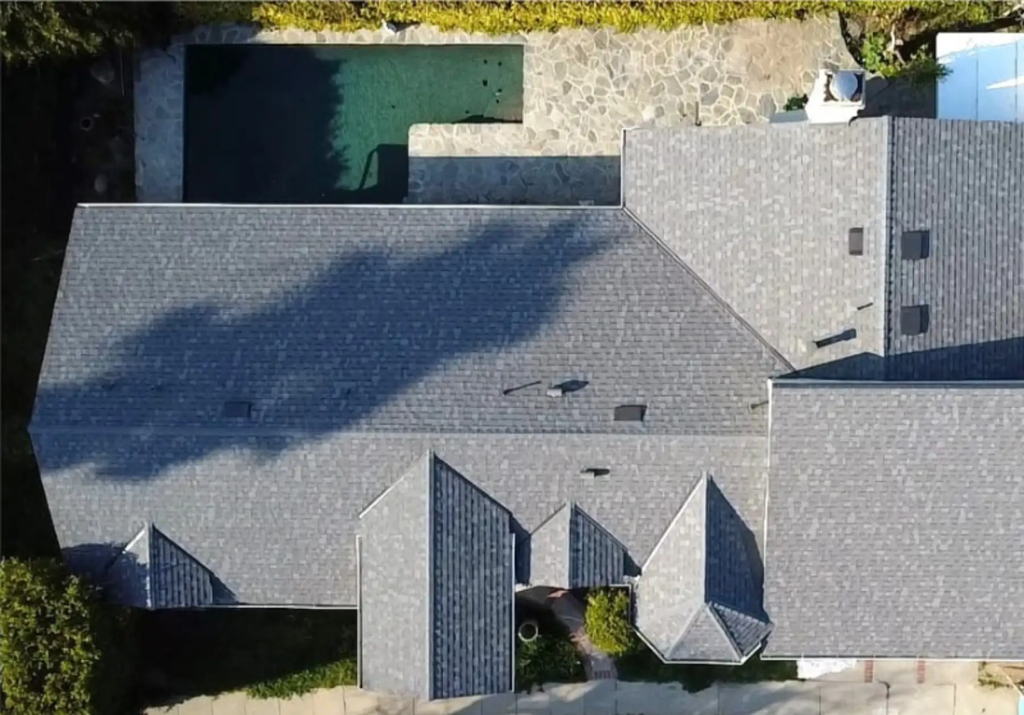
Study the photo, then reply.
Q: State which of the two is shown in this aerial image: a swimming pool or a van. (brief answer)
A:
swimming pool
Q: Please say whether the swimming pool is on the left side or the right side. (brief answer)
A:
left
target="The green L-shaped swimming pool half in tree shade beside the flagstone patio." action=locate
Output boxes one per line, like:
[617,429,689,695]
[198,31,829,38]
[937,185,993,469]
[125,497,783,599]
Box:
[184,44,523,203]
